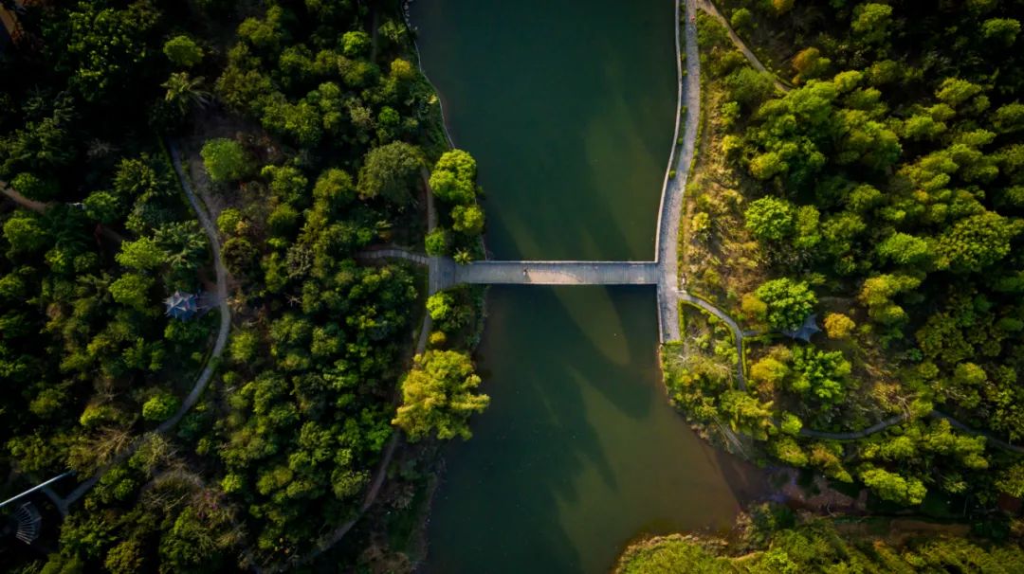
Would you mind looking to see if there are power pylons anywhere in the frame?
No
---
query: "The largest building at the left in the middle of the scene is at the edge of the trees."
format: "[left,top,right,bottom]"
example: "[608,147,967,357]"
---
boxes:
[157,284,201,324]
